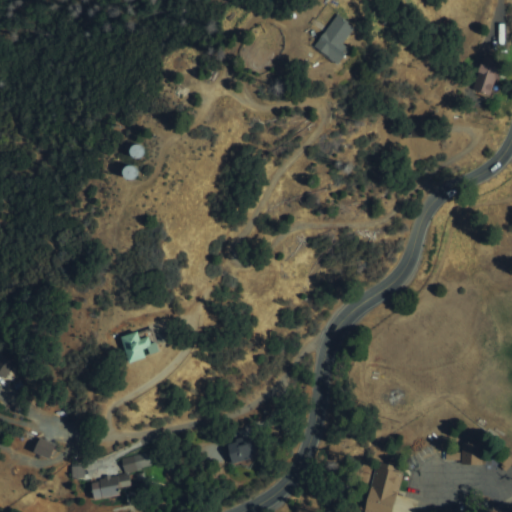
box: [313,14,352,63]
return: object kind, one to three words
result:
house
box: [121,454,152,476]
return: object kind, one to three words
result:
building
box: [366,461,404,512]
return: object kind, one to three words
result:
building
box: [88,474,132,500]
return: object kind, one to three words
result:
house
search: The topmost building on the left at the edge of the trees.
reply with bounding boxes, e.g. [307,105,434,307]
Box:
[121,332,160,363]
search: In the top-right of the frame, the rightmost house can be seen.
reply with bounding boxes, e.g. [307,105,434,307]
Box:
[472,62,499,96]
